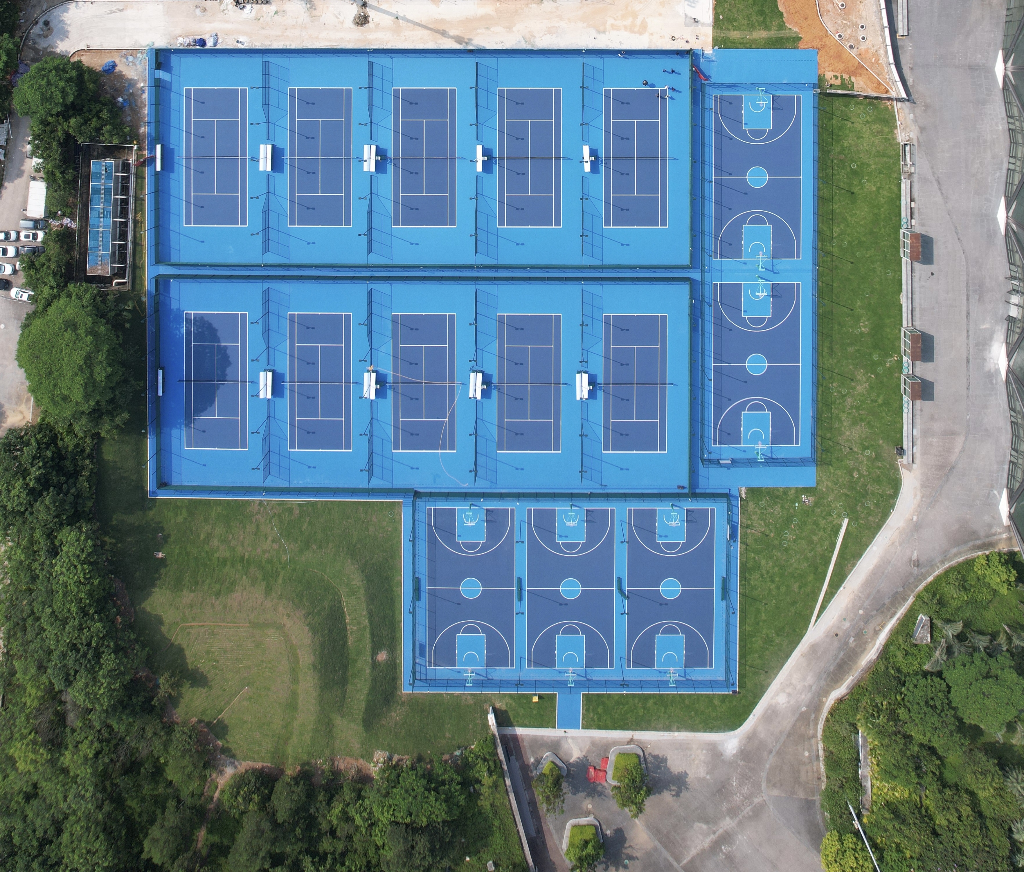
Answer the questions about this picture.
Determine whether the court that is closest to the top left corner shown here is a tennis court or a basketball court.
tennis court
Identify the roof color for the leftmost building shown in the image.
blue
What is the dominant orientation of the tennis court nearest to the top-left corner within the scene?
from top to bottom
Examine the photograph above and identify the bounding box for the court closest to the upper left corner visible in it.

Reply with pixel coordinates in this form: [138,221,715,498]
[184,88,248,226]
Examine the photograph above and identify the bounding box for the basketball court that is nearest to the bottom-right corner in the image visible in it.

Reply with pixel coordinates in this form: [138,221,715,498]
[626,508,716,669]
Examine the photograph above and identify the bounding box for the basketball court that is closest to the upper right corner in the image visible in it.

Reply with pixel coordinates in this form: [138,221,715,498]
[713,95,801,259]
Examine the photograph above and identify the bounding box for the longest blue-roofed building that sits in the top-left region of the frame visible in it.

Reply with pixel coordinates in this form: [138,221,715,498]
[87,161,138,289]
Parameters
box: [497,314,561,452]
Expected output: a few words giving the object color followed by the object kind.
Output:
blue tennis court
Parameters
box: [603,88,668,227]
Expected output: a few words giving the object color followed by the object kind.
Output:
blue tennis court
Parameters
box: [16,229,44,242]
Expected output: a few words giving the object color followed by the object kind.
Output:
white vehicle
